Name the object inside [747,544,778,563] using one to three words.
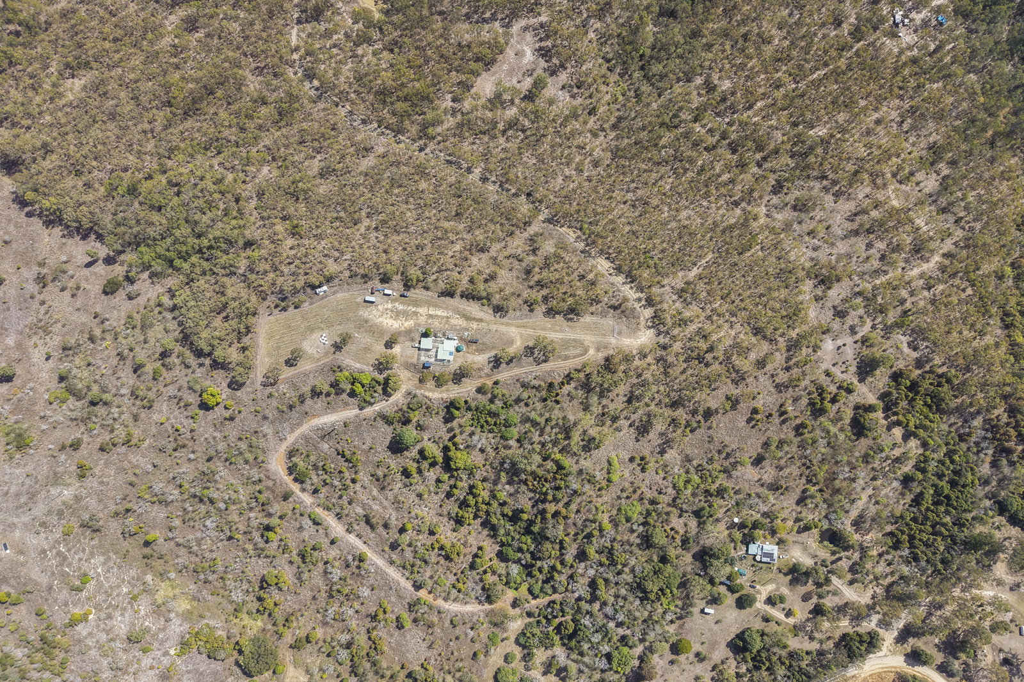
house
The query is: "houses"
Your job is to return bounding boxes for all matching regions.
[747,544,778,563]
[417,340,457,366]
